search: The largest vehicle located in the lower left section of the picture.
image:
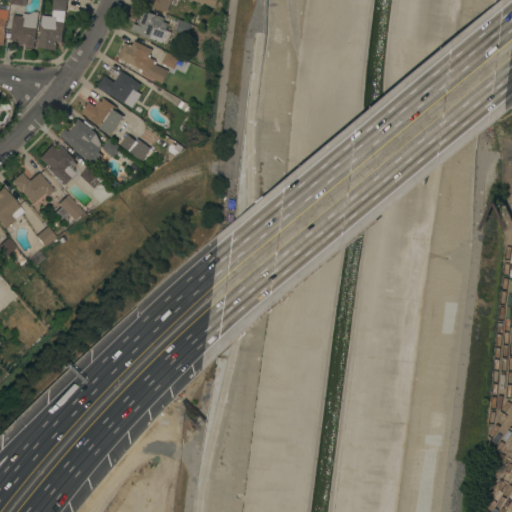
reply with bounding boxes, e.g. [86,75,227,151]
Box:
[48,382,80,414]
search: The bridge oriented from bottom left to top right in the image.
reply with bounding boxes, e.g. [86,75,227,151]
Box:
[203,0,512,372]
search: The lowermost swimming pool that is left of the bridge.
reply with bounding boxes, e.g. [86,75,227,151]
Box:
[16,228,32,252]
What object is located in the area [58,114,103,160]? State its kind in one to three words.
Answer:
house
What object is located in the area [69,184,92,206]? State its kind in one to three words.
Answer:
swimming pool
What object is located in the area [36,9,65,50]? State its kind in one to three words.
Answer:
house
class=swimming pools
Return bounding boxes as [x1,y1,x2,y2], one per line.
[16,228,32,252]
[26,0,40,13]
[150,106,166,126]
[108,158,120,176]
[69,184,92,206]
